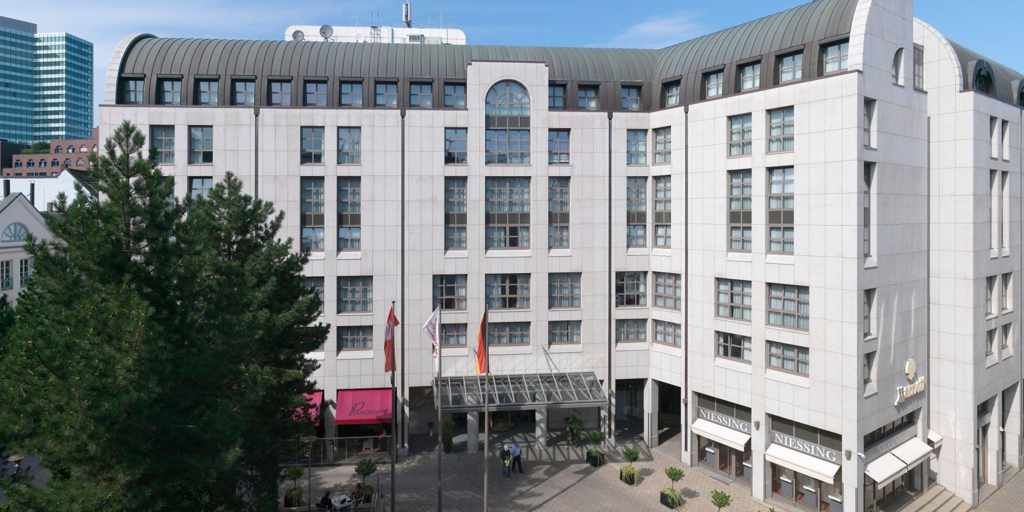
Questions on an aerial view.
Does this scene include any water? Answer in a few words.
No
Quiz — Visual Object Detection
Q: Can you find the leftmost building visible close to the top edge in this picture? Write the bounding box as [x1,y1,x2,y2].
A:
[0,9,94,148]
